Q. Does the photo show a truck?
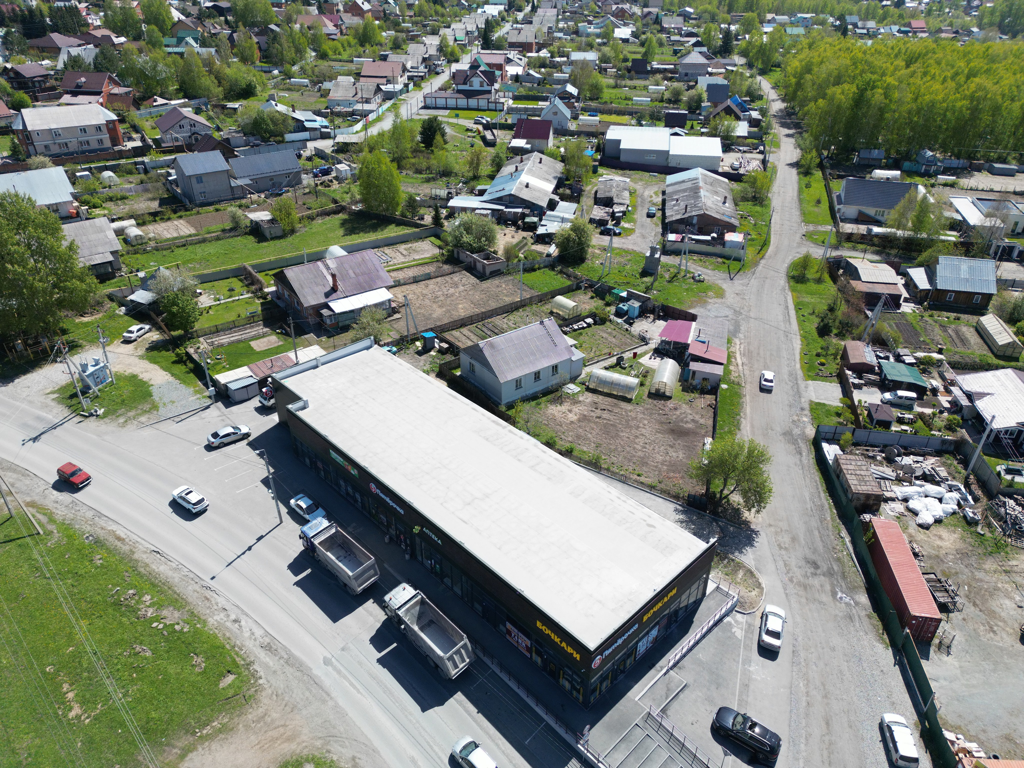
Yes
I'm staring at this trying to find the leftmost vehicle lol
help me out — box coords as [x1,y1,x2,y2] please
[57,462,93,490]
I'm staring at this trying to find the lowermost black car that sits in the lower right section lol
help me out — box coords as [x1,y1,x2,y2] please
[709,710,782,762]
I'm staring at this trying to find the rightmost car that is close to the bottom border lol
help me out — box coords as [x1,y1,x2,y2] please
[879,709,922,768]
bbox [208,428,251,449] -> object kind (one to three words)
car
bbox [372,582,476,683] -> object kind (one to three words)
truck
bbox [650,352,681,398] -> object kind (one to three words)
greenhouse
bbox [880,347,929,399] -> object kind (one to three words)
shed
